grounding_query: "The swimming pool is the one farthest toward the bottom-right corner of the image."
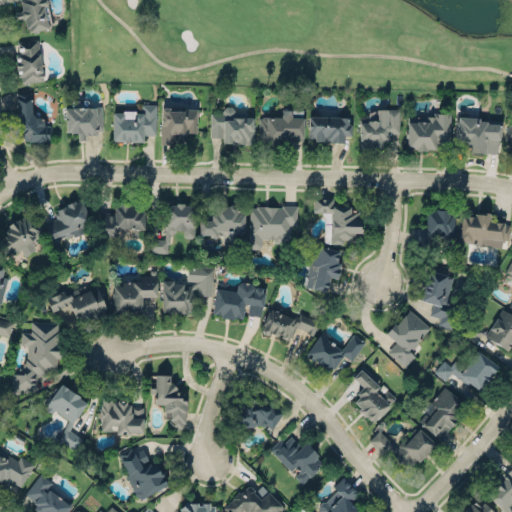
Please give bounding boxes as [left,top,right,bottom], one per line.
[385,422,412,444]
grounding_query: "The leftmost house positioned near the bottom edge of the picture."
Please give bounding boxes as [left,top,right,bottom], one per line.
[0,452,36,488]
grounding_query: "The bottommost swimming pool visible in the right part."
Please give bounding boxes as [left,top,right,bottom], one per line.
[318,481,336,500]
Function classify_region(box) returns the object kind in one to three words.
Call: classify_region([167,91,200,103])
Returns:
swimming pool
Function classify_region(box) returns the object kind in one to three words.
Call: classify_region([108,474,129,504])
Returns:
swimming pool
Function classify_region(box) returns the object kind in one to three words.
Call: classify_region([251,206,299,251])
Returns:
house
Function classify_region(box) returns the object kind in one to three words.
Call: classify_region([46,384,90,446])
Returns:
house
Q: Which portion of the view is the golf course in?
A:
top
